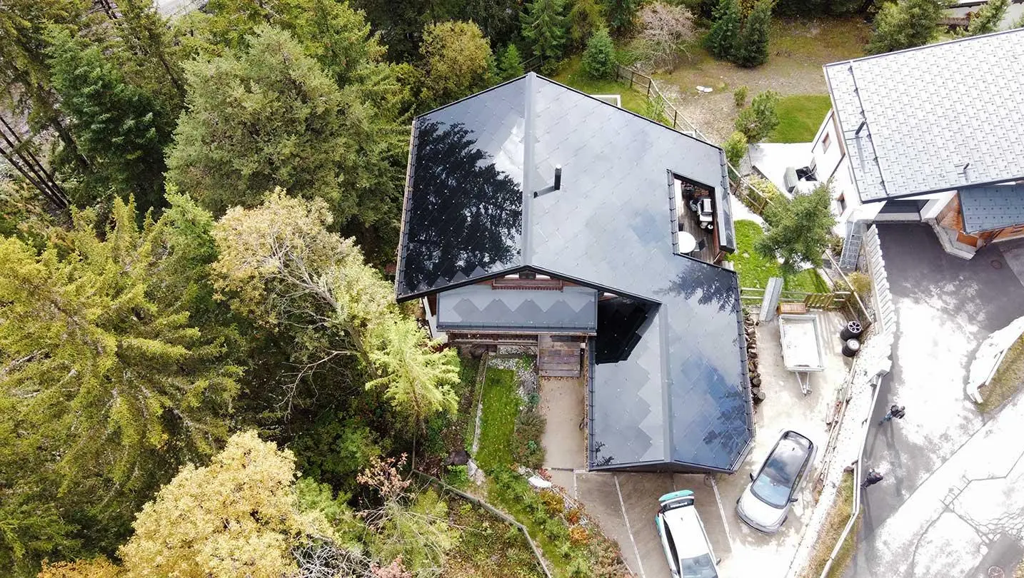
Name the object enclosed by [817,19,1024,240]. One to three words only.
house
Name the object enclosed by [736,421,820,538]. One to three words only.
car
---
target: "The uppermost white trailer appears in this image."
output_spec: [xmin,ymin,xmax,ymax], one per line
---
[773,314,827,401]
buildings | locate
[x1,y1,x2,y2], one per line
[817,19,1024,240]
[392,73,758,477]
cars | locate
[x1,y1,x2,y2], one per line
[736,421,820,538]
[647,477,732,578]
